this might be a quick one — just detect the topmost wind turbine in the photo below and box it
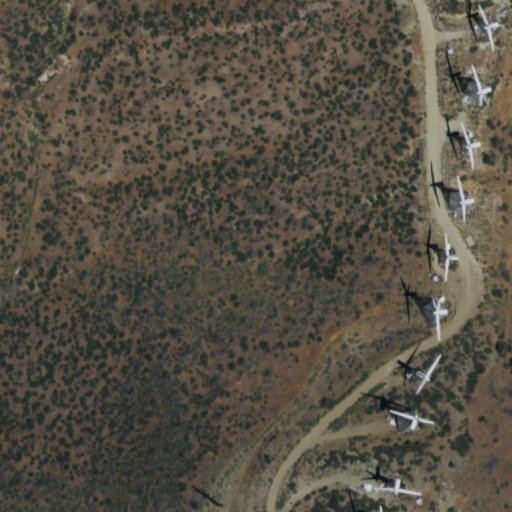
[478,4,500,49]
